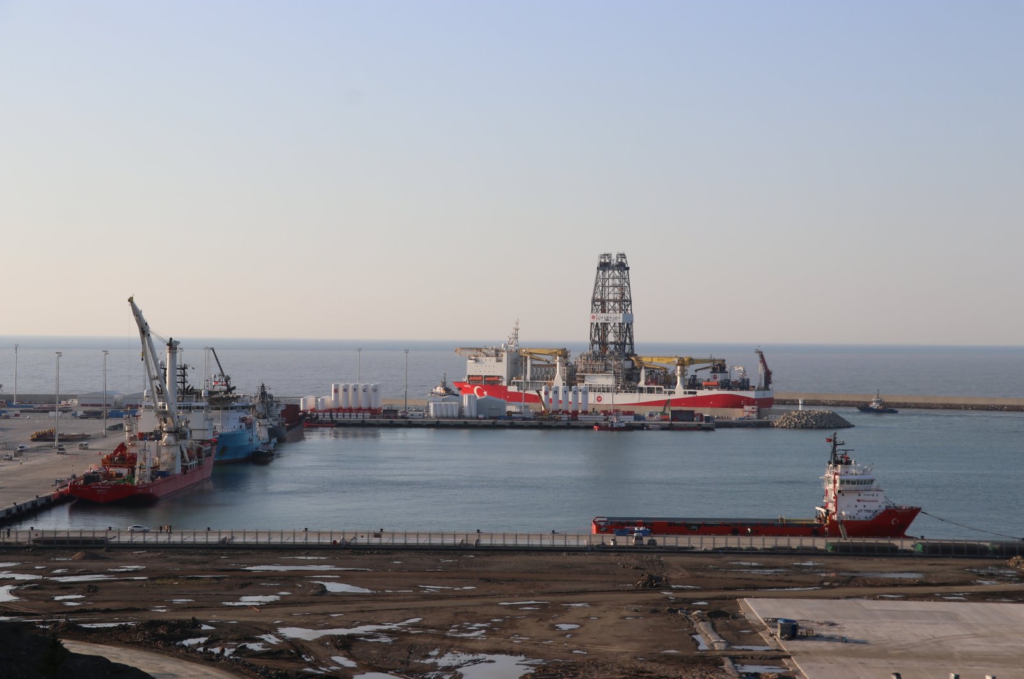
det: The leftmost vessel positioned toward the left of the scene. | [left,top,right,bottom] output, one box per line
[72,294,218,500]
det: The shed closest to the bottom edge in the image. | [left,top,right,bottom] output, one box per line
[777,617,799,641]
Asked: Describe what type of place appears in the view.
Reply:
port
